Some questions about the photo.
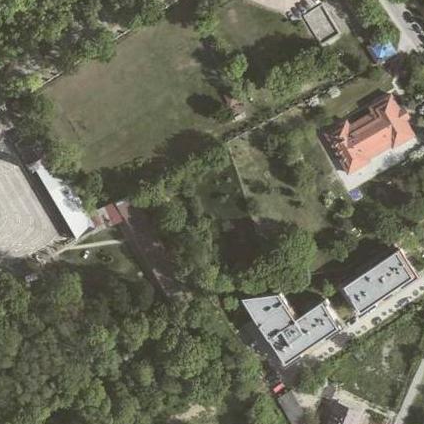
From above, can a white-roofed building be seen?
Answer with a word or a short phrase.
Yes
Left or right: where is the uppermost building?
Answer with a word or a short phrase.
right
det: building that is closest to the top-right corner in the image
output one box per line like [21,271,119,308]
[369,42,398,62]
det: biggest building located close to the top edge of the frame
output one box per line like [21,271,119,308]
[304,4,339,42]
